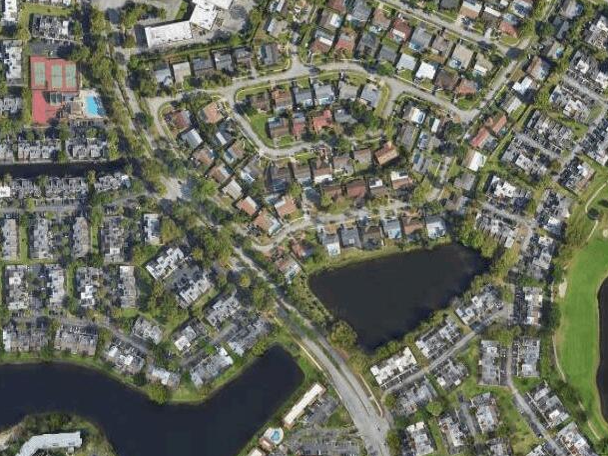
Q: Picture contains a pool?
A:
Yes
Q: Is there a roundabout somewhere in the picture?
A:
No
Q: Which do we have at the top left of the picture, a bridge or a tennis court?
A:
tennis court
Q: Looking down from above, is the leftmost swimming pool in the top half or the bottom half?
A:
top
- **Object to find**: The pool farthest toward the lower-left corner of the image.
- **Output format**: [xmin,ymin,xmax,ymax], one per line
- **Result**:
[265,427,283,444]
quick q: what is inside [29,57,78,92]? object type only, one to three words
tennis court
